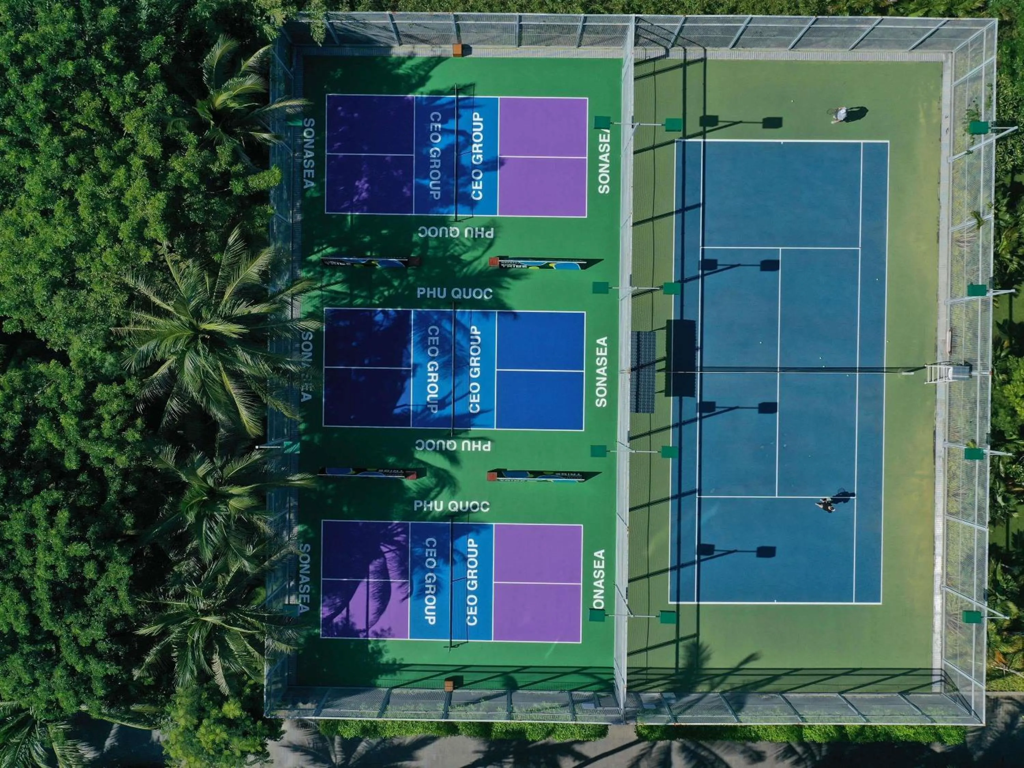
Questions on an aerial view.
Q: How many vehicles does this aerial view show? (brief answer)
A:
0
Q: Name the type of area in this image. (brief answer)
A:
sports ground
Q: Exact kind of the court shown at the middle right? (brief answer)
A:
tennis court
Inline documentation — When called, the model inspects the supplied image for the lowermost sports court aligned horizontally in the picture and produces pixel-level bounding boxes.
[299,501,605,644]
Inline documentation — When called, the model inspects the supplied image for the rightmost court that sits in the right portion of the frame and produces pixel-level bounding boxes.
[615,59,943,693]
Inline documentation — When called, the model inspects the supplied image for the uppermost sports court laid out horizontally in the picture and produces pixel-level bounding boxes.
[303,94,611,238]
